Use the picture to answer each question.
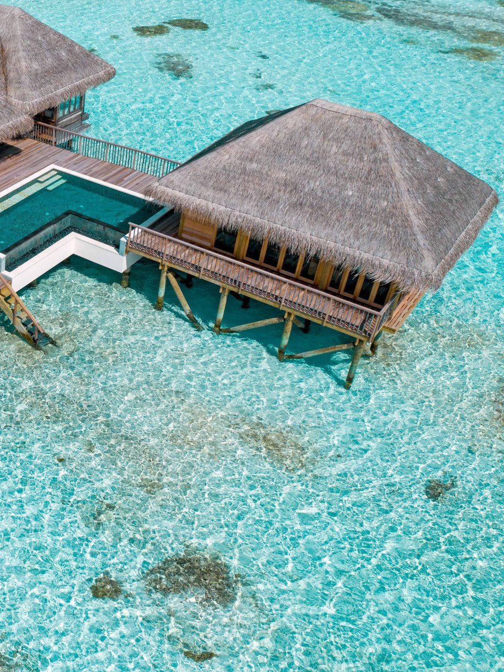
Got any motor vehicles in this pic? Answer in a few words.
No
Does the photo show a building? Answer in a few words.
Yes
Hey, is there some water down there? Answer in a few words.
Yes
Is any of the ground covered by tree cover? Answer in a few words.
No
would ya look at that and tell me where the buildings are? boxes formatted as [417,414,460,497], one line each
[132,98,504,384]
[0,2,114,149]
